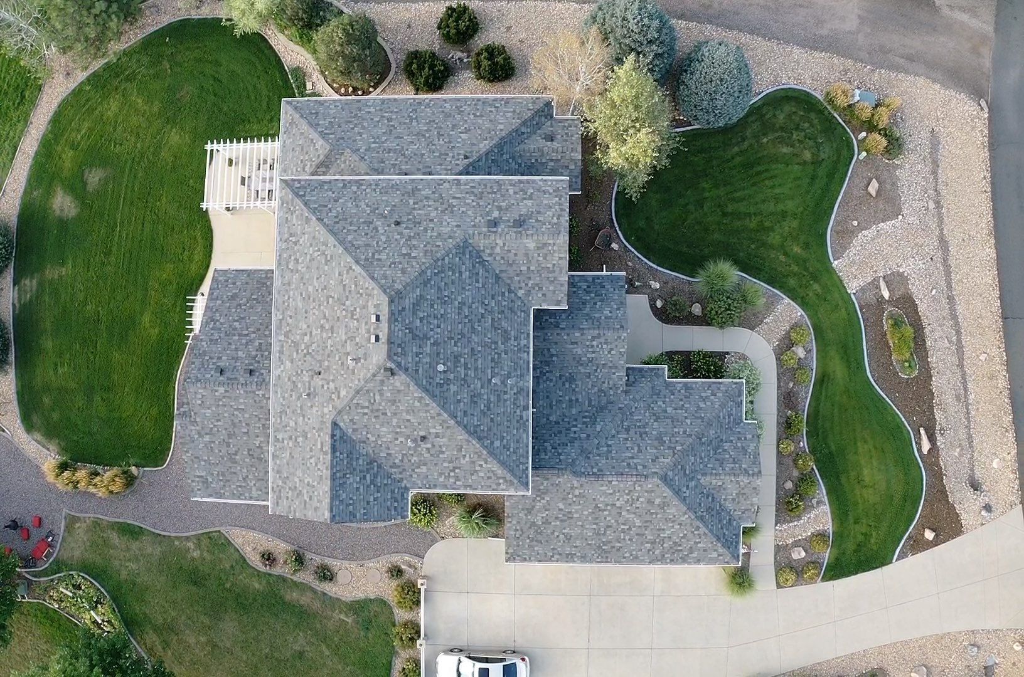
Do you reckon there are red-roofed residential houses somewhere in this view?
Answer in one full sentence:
No, the picture doesn't show any red-roofed residential house.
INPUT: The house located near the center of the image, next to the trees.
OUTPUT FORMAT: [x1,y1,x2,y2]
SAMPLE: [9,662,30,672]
[177,93,762,568]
